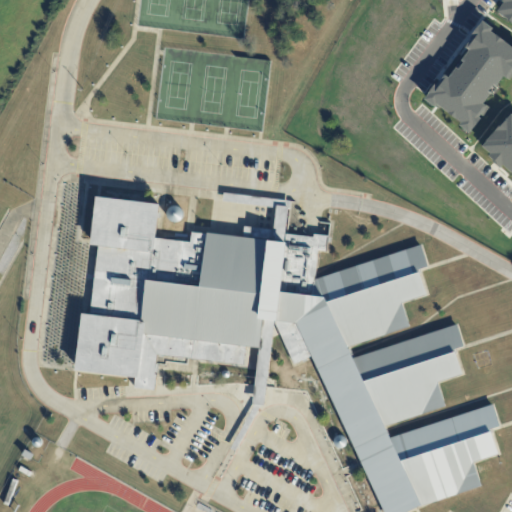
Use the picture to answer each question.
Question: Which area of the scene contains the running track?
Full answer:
The running track is in the bottom left part of the image.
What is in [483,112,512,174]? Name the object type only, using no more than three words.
building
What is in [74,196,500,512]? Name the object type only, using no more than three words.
building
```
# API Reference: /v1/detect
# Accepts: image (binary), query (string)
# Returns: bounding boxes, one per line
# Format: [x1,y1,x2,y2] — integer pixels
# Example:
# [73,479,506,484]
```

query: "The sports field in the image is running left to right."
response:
[44,492,144,512]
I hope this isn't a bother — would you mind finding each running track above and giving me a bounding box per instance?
[26,456,174,512]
